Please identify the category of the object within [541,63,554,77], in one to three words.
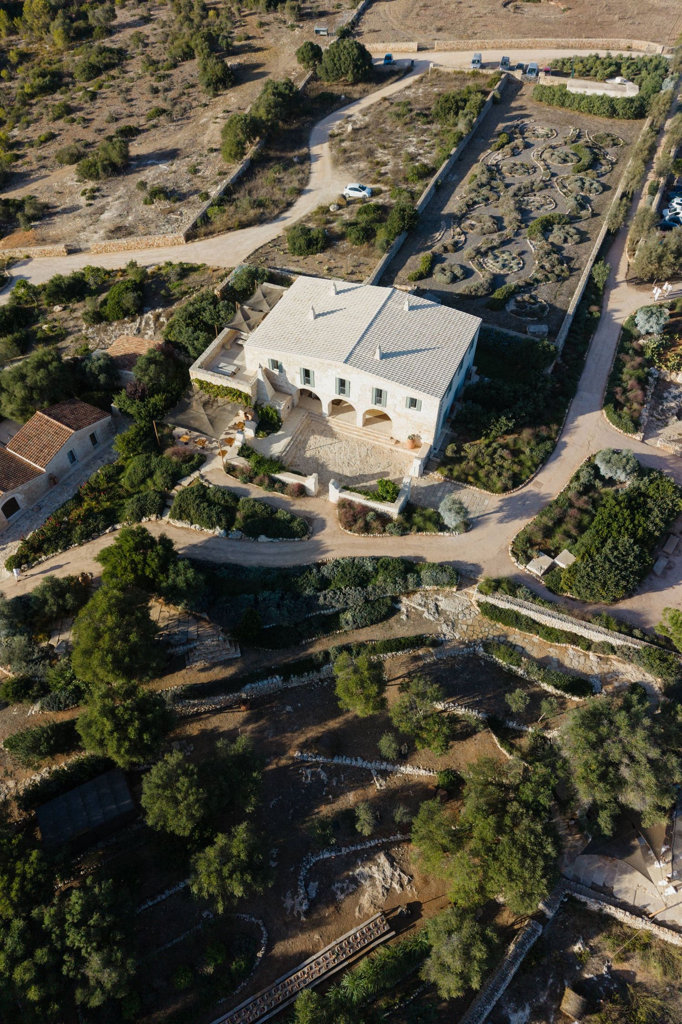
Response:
vehicle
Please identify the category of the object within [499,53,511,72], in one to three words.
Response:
vehicle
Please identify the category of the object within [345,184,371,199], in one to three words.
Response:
car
